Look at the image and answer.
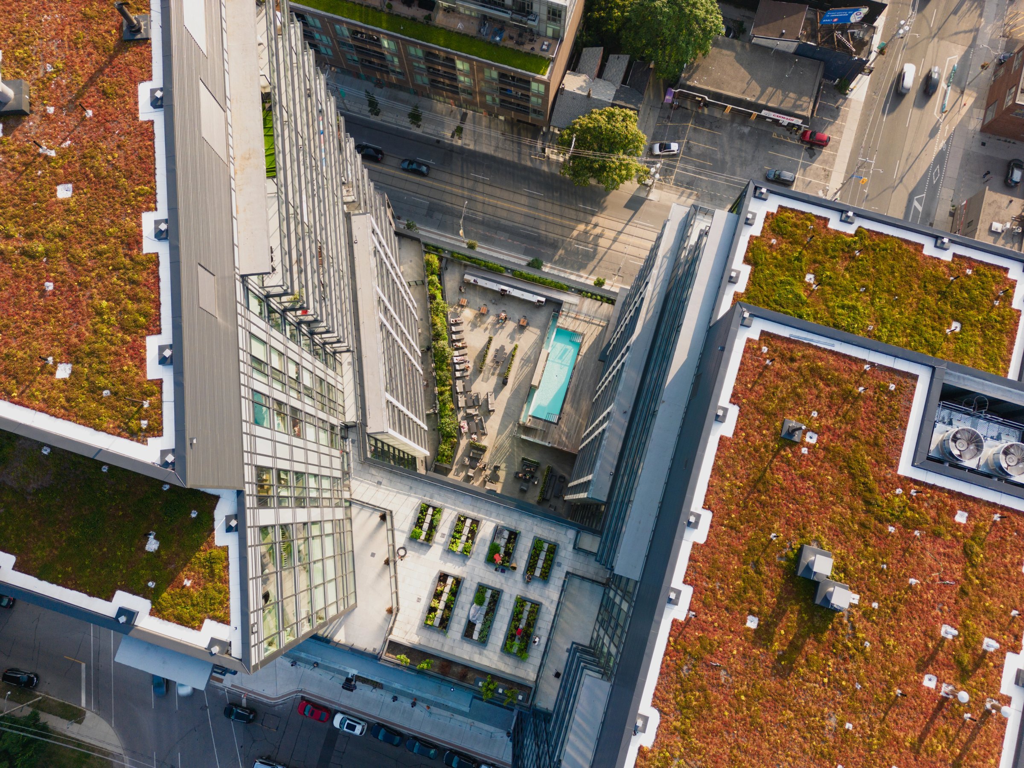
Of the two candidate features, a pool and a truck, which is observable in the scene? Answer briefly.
pool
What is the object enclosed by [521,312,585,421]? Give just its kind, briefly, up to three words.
swimming pool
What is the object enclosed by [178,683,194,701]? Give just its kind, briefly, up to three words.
car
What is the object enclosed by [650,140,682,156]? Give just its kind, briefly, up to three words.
car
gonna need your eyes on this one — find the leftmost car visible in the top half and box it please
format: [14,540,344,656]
[355,143,386,162]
